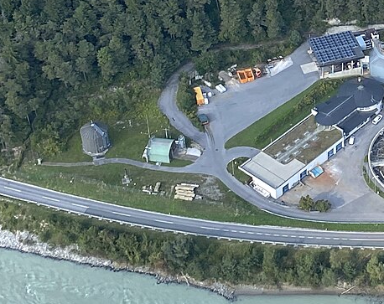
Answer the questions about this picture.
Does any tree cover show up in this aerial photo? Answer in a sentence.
Yes, there's tree cover in this view.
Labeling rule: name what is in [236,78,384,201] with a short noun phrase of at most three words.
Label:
building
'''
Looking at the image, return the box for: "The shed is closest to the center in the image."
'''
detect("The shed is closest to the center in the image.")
[140,137,176,166]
